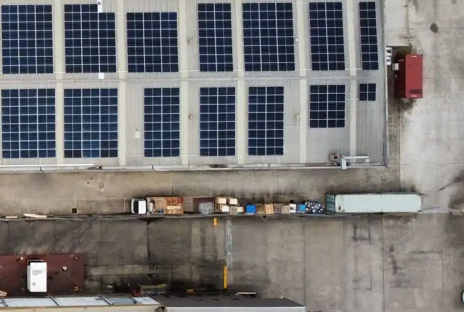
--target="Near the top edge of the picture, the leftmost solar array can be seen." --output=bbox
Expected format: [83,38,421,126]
[1,3,54,74]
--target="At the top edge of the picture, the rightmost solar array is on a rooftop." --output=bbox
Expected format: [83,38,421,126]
[359,0,380,70]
